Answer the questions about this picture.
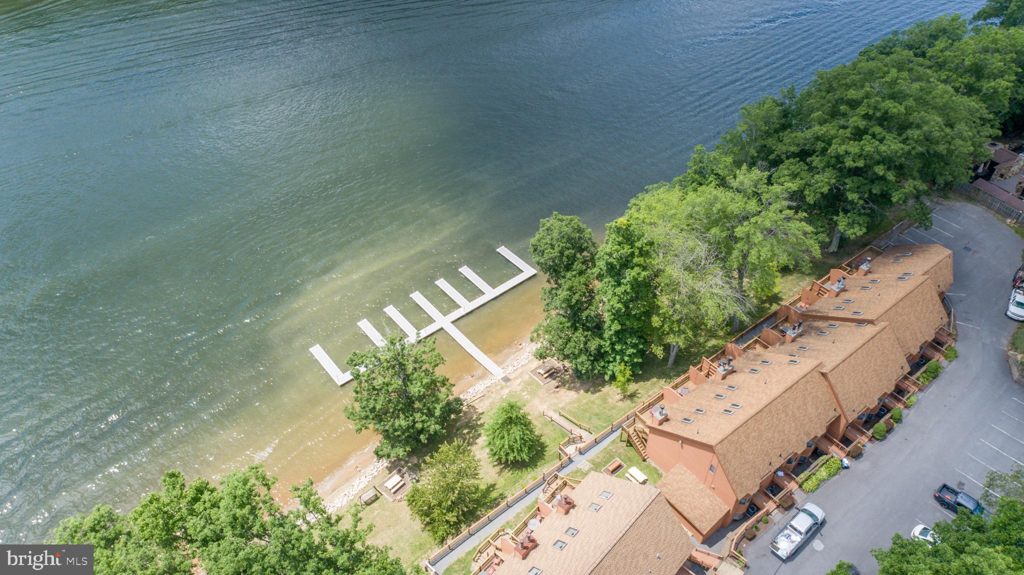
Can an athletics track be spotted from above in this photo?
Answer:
No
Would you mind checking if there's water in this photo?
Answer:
Yes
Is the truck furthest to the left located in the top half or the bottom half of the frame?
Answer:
bottom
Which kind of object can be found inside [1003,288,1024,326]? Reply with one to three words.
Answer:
truck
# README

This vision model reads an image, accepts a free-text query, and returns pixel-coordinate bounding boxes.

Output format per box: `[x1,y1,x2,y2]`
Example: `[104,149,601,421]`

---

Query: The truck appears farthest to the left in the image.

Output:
[766,504,824,564]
